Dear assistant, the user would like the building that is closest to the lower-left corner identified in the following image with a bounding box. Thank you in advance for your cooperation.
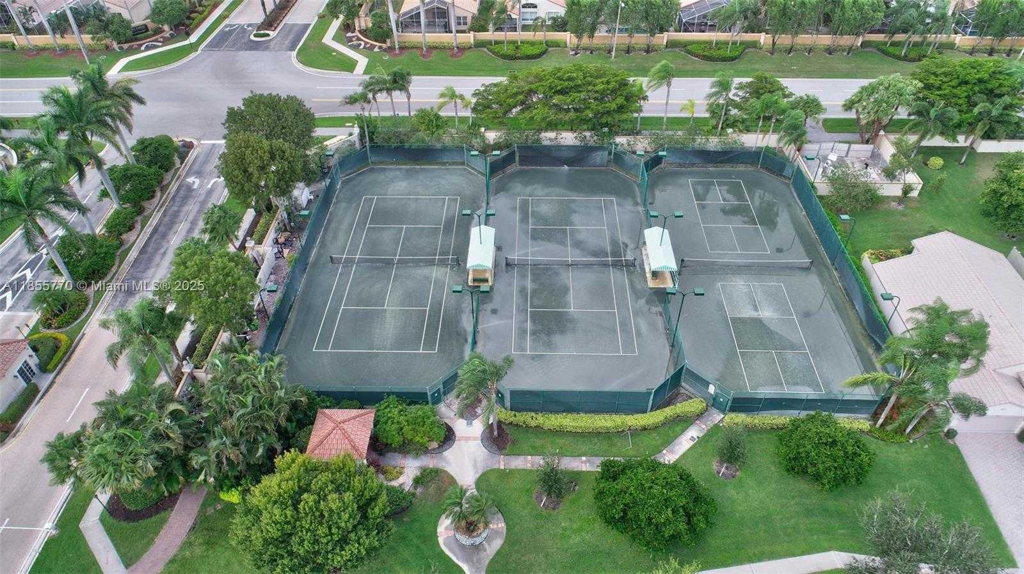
[0,339,37,412]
